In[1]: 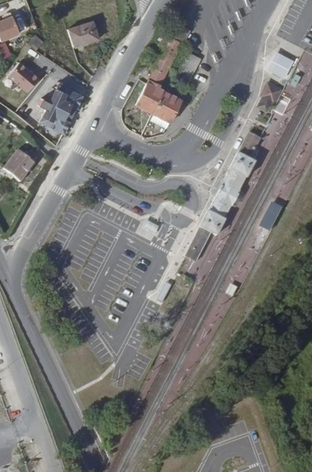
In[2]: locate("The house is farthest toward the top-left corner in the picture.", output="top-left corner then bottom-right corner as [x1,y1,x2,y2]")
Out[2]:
[0,16,20,42]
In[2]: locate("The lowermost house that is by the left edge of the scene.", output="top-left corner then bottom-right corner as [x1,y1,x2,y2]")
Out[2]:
[4,148,34,181]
